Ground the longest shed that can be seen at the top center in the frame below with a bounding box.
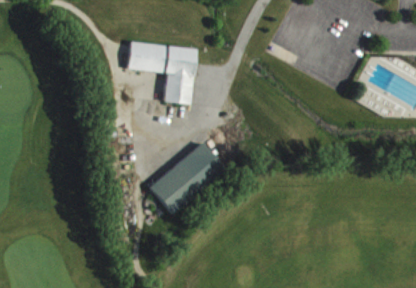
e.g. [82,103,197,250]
[164,45,198,106]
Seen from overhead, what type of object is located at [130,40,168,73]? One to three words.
shed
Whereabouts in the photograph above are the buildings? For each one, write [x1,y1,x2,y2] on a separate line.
[152,143,228,214]
[164,45,198,106]
[130,40,168,73]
